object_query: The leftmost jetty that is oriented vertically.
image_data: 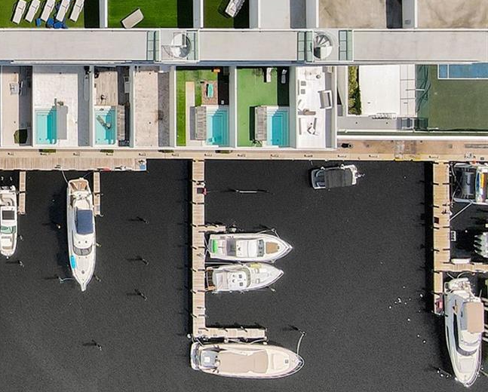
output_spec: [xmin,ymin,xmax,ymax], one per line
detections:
[15,172,29,215]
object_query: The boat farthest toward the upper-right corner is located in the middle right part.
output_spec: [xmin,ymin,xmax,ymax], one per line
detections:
[449,167,488,200]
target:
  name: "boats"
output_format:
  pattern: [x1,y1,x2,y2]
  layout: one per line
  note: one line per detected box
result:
[205,232,294,261]
[469,233,488,257]
[449,167,488,200]
[204,259,285,291]
[186,338,305,377]
[61,177,95,295]
[309,162,365,188]
[0,177,18,258]
[437,274,488,387]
